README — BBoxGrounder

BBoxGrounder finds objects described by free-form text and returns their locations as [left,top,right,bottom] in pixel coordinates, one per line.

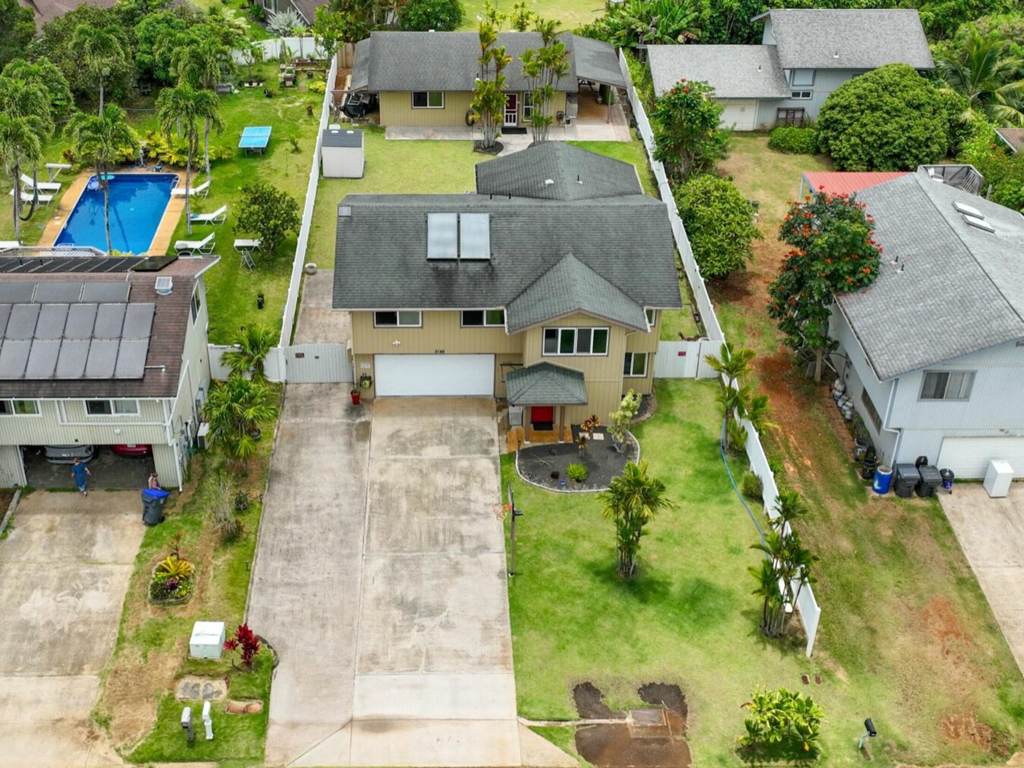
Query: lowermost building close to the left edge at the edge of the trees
[0,255,222,490]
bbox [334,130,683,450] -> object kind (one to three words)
house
